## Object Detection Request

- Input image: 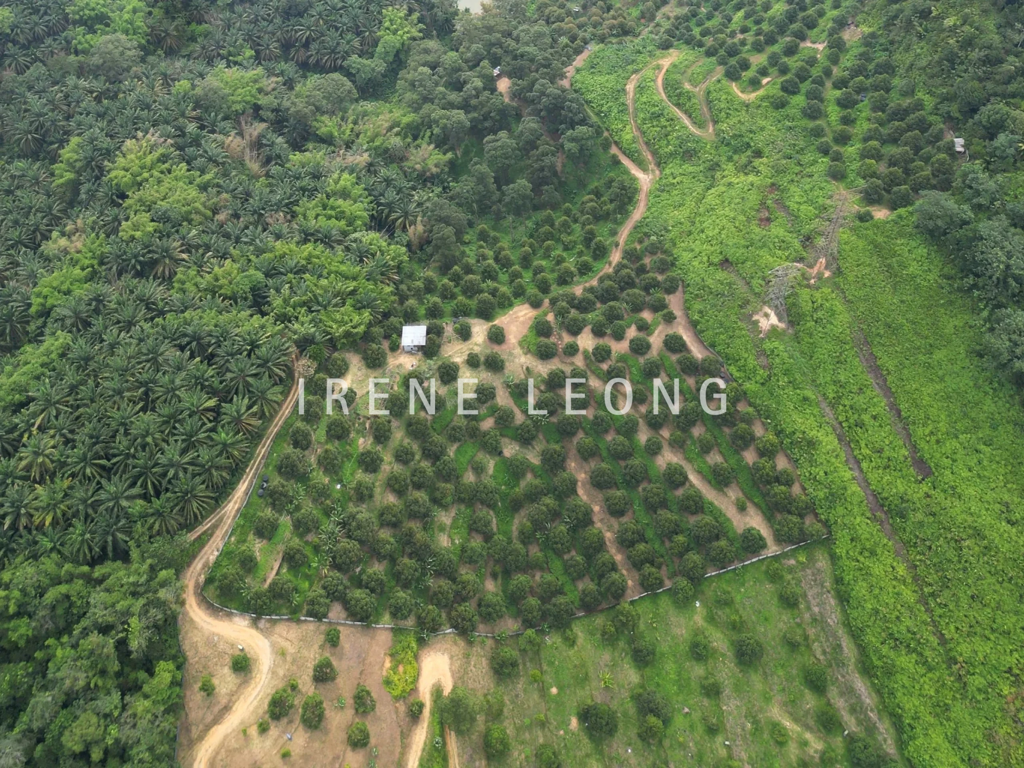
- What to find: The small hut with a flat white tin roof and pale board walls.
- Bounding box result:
[402,326,426,352]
